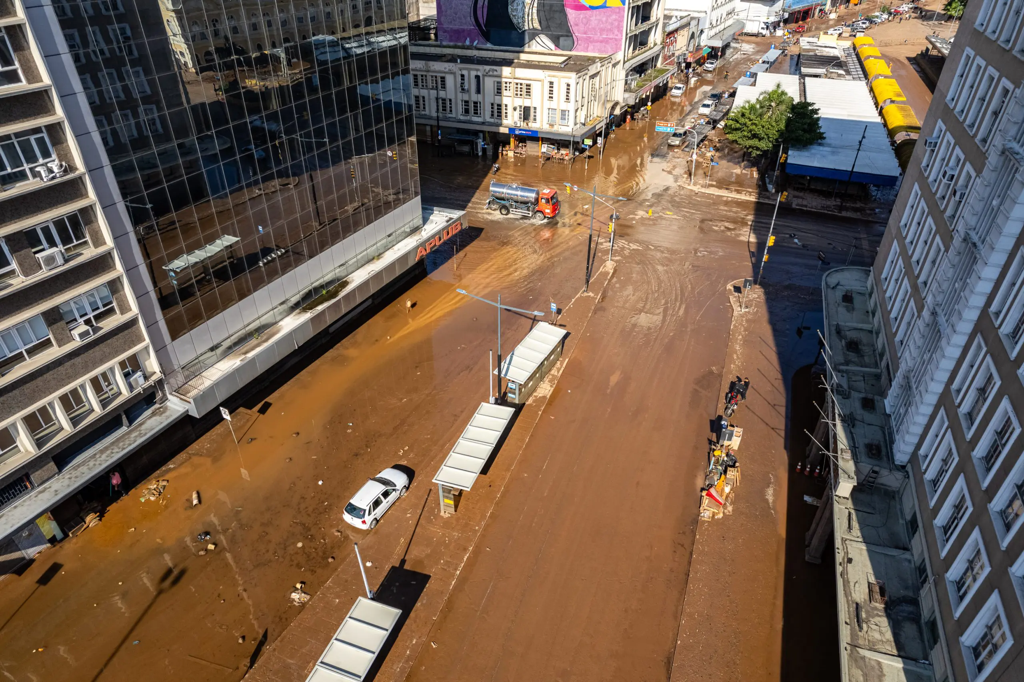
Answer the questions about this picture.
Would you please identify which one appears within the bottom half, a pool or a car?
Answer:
car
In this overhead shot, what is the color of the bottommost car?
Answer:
white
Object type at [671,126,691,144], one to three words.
car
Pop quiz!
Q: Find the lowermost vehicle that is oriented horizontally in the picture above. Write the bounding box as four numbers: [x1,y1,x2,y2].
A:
[481,173,561,221]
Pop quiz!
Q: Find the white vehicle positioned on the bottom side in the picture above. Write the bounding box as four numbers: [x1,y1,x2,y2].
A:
[335,468,410,535]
